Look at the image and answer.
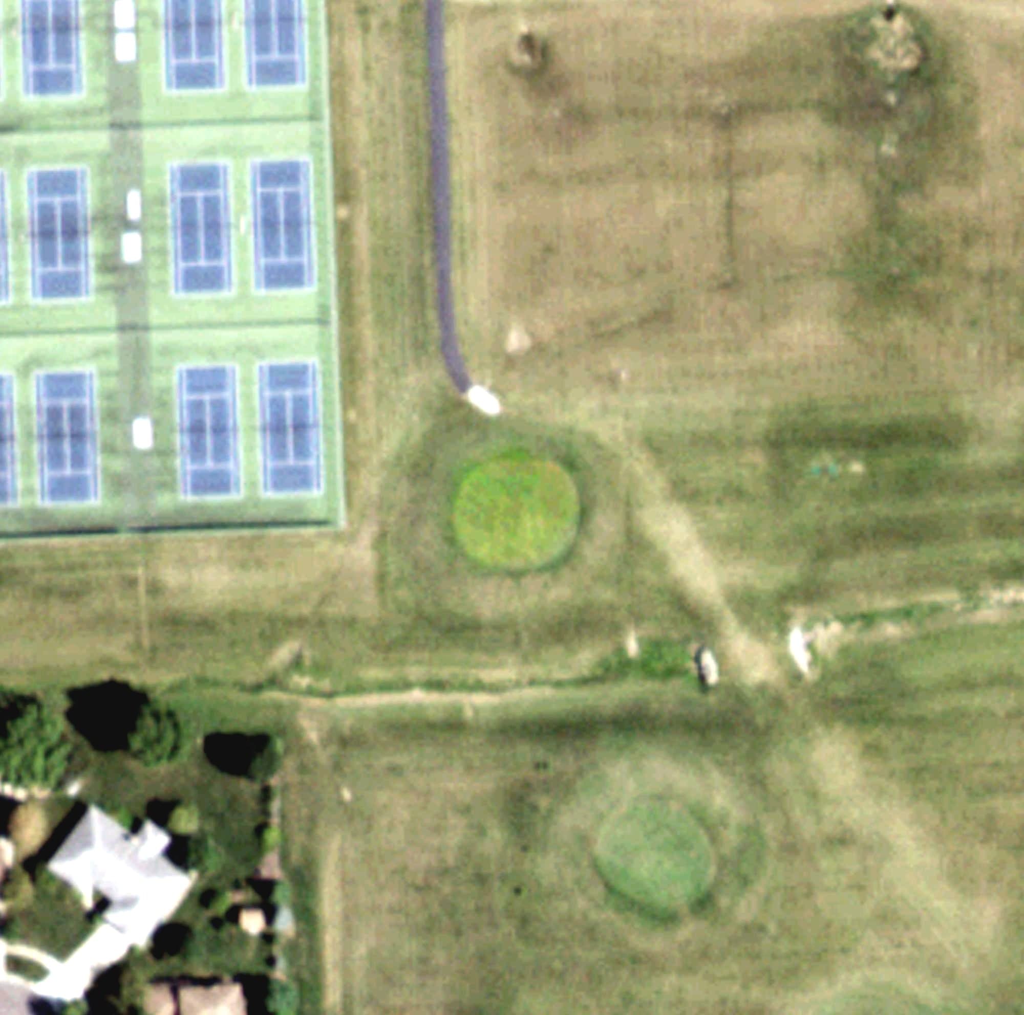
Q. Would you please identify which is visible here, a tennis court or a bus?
tennis court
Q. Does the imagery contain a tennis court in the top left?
Yes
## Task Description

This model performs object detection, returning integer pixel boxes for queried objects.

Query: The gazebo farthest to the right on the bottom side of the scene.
[237,908,265,939]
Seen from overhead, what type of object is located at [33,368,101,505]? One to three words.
tennis court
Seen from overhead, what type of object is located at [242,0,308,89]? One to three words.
tennis court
